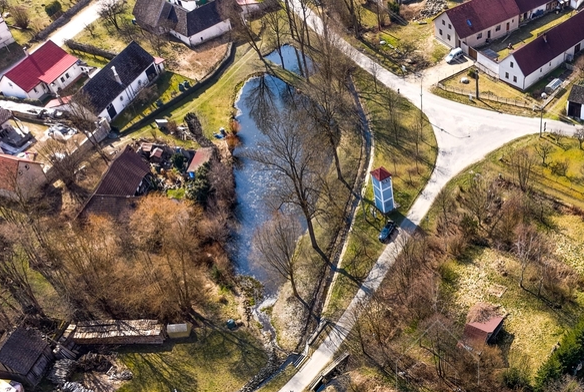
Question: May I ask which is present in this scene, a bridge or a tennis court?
bridge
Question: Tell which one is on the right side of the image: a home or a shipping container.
home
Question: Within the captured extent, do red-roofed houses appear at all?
Yes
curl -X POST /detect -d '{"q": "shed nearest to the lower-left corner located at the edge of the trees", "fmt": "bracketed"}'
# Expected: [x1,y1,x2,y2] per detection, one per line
[0,325,55,383]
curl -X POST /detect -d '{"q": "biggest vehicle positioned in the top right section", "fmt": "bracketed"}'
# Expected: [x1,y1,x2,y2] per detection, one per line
[444,43,464,59]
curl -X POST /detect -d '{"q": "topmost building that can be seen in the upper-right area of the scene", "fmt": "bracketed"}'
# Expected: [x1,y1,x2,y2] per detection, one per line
[431,0,519,49]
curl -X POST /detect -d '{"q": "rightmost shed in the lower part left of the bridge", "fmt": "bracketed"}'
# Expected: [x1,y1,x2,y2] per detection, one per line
[167,322,191,339]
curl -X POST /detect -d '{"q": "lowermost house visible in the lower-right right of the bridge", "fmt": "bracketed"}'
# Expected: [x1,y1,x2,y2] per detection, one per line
[464,303,503,351]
